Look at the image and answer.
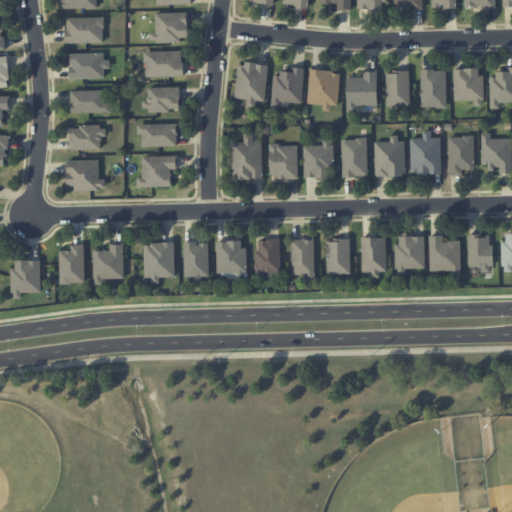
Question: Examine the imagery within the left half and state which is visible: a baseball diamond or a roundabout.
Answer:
baseball diamond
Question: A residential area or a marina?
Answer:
residential area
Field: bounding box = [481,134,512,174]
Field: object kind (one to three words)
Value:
house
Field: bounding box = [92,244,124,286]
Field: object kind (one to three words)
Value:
house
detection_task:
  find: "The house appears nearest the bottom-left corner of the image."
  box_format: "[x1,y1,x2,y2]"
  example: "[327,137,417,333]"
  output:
[10,260,42,299]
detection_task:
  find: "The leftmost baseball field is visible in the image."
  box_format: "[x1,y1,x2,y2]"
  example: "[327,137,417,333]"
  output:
[0,400,62,512]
